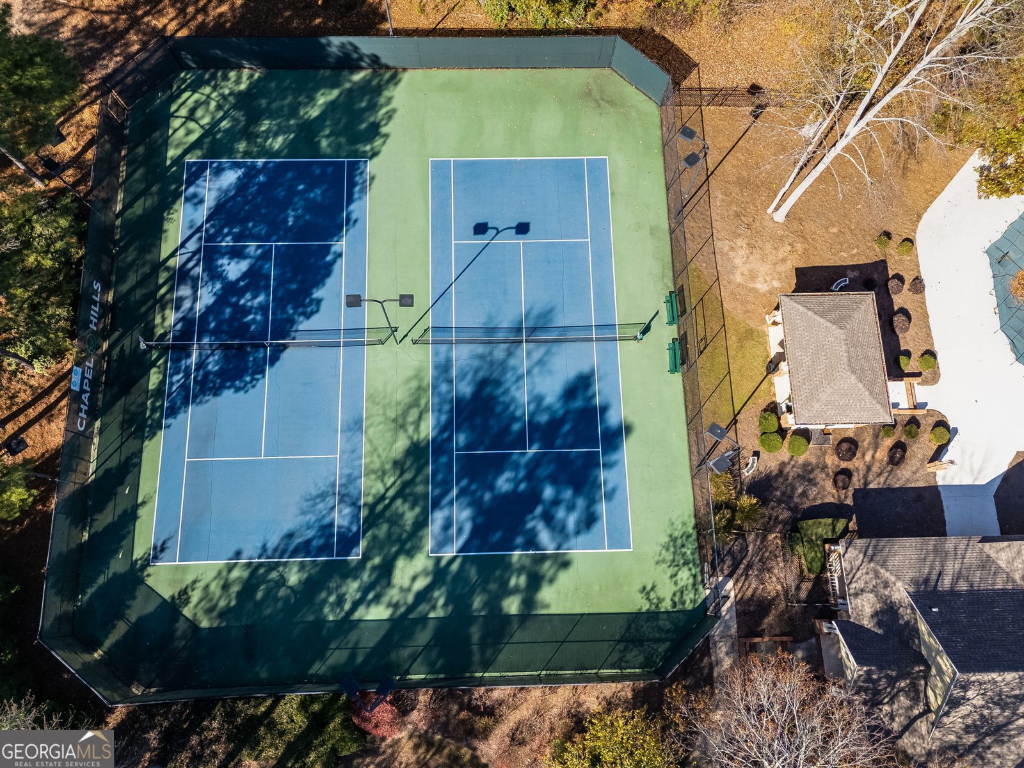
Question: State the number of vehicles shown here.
zero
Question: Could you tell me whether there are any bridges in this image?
No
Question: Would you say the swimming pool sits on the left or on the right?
right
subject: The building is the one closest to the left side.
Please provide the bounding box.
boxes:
[764,290,897,432]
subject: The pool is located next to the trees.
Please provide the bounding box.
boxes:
[984,215,1024,363]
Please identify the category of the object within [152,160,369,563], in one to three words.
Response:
tennis court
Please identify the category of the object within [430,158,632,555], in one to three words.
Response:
tennis court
